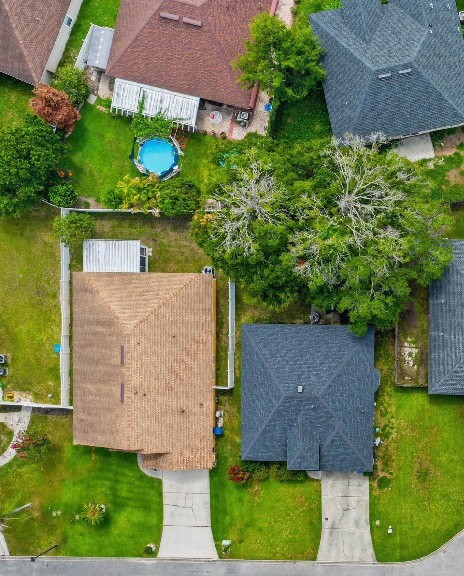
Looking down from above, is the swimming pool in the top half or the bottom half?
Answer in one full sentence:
Seen from above, the swimming pool lies in the top half of the view.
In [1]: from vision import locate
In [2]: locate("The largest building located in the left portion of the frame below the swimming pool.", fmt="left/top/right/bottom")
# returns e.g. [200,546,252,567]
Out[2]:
[72,270,218,470]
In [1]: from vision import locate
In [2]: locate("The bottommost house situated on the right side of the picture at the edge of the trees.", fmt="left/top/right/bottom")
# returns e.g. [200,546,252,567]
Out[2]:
[241,324,379,472]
